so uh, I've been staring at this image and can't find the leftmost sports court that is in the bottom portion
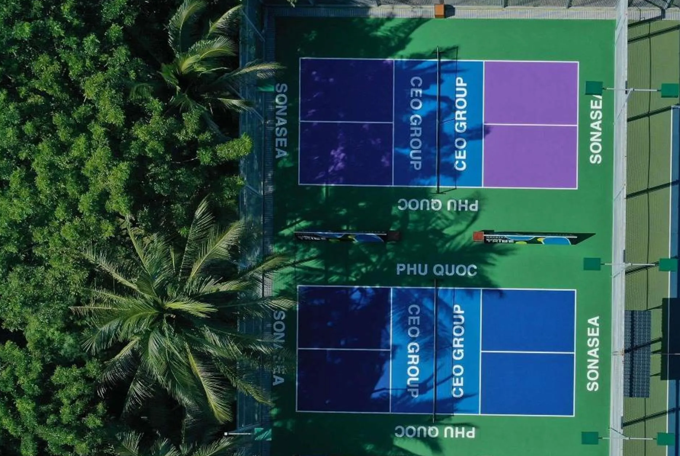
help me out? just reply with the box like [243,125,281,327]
[274,263,600,438]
